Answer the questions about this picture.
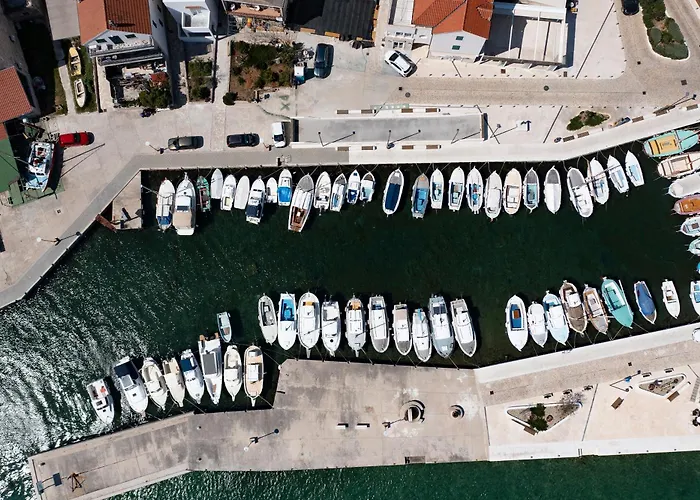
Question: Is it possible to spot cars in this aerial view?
Yes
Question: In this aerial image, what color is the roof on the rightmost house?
red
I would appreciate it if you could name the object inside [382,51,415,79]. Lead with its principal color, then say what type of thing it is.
white car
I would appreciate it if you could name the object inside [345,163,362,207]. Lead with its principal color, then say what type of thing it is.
white boat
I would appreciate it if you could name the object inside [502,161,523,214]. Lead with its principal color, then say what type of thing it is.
white boat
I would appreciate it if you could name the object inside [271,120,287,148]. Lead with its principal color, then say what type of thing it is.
white vehicle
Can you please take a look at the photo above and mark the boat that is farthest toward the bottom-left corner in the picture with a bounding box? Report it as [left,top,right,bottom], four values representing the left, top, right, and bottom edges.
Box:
[88,380,116,432]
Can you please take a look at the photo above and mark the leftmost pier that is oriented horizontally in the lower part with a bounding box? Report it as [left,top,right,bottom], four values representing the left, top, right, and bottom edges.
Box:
[14,358,489,500]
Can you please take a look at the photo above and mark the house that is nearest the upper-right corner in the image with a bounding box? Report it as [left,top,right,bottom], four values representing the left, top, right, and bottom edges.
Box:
[409,0,493,63]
